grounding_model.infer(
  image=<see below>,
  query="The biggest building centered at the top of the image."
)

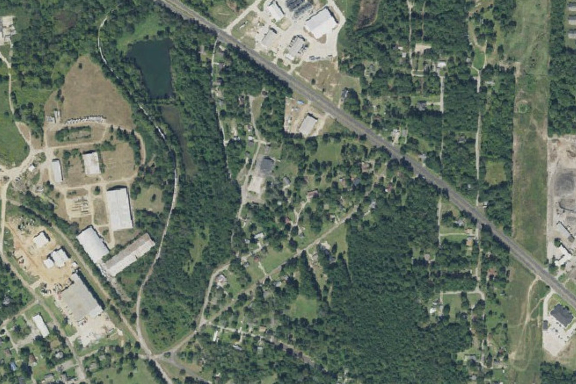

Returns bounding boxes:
[304,7,338,39]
